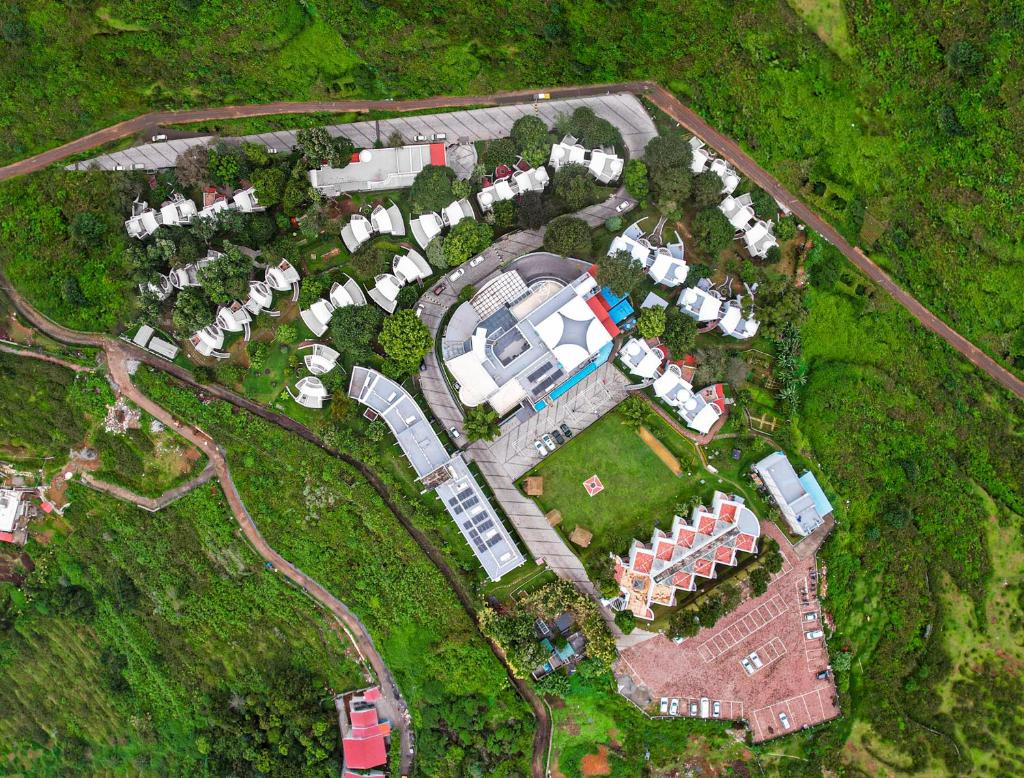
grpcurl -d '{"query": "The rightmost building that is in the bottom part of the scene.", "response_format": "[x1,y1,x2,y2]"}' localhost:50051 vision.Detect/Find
[761,450,833,537]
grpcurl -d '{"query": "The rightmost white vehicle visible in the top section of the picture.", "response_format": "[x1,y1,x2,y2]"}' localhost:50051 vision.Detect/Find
[614,201,630,213]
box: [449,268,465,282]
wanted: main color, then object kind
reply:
white car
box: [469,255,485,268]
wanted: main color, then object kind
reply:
white vehicle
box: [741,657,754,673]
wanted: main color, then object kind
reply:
white vehicle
